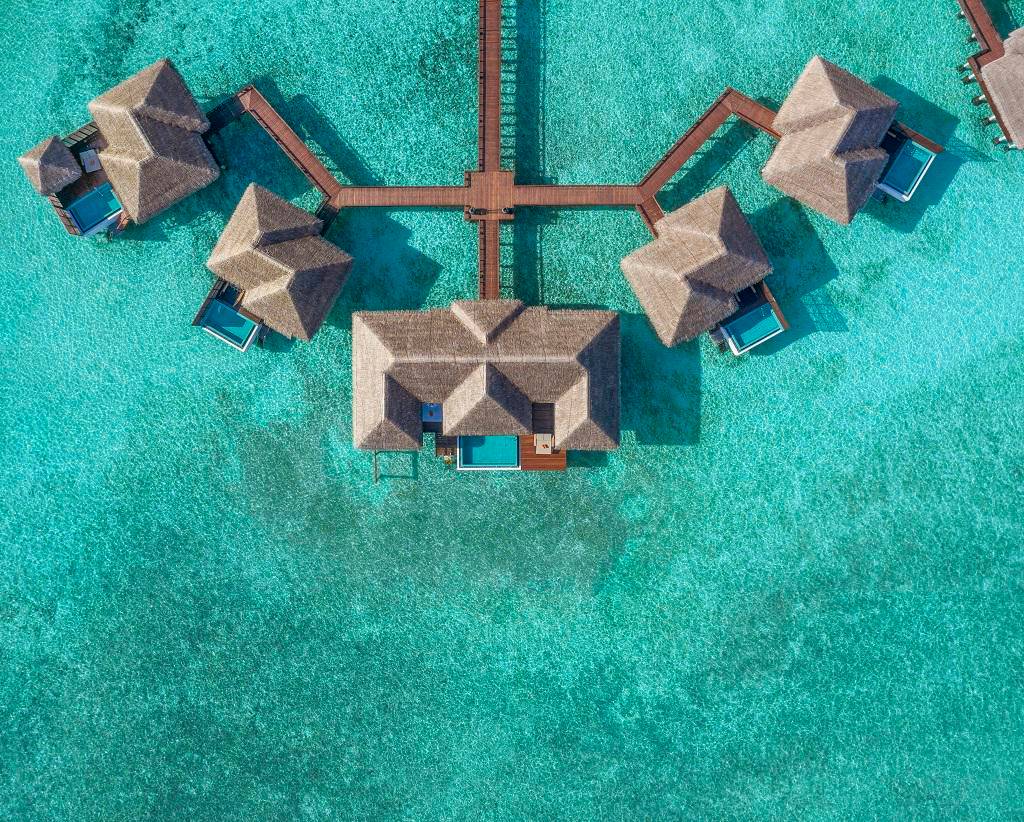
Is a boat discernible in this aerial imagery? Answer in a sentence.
No, there's no boat here.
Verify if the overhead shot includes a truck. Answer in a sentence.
No, I can't see a single truck in this photo.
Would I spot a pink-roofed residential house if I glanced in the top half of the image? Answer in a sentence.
No, in the top half of the image there is no pink-roofed residential house.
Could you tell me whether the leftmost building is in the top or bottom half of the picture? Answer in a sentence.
You can find the leftmost building in the top half.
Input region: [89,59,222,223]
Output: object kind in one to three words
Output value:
house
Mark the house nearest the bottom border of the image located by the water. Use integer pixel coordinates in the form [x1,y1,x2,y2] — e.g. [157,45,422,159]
[351,300,622,451]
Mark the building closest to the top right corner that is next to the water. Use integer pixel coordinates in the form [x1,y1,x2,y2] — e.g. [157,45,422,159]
[954,11,1024,154]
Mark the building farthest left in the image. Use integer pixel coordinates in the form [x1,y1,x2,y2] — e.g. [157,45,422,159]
[17,136,83,197]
